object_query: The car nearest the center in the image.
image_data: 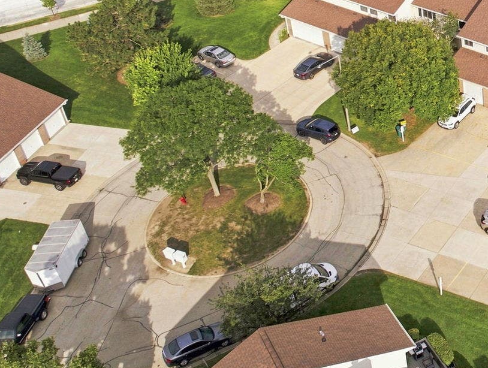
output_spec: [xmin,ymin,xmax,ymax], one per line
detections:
[292,116,343,144]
